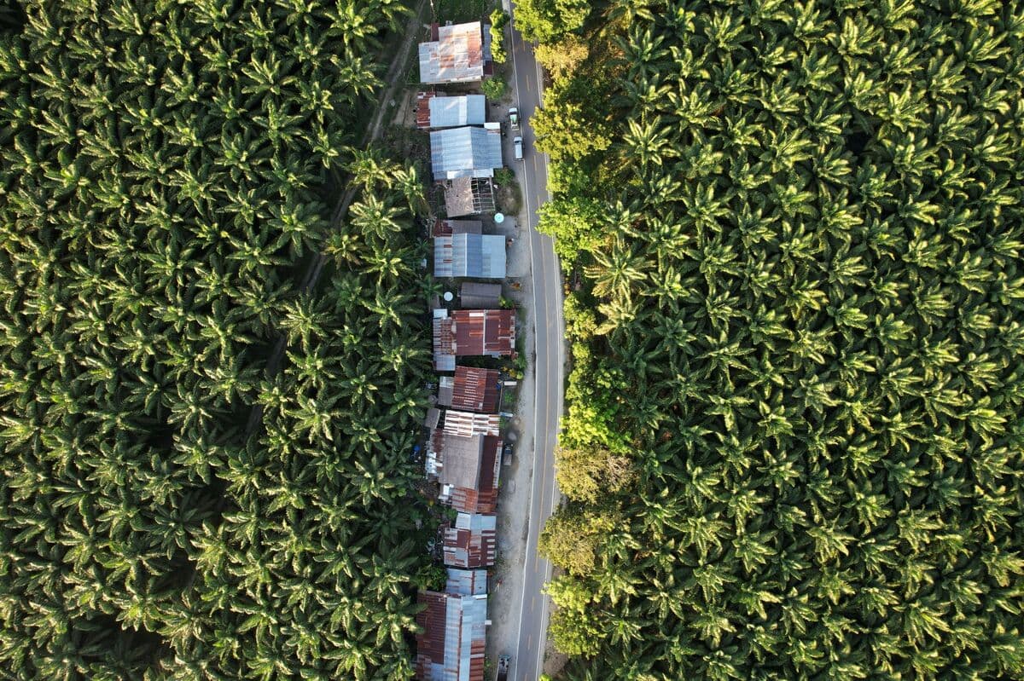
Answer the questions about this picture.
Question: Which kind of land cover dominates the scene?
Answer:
trees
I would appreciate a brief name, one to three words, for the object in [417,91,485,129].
house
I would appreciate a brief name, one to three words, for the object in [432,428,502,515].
house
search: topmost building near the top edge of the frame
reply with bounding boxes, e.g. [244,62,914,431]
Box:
[419,21,494,86]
